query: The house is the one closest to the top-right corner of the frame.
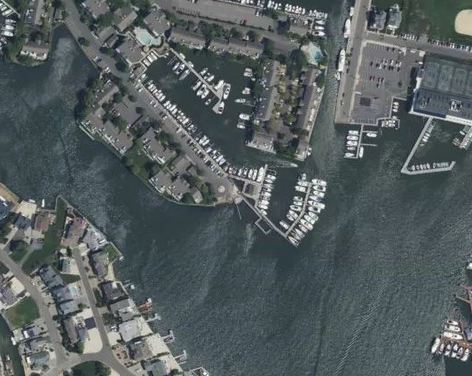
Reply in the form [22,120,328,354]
[388,1,407,30]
